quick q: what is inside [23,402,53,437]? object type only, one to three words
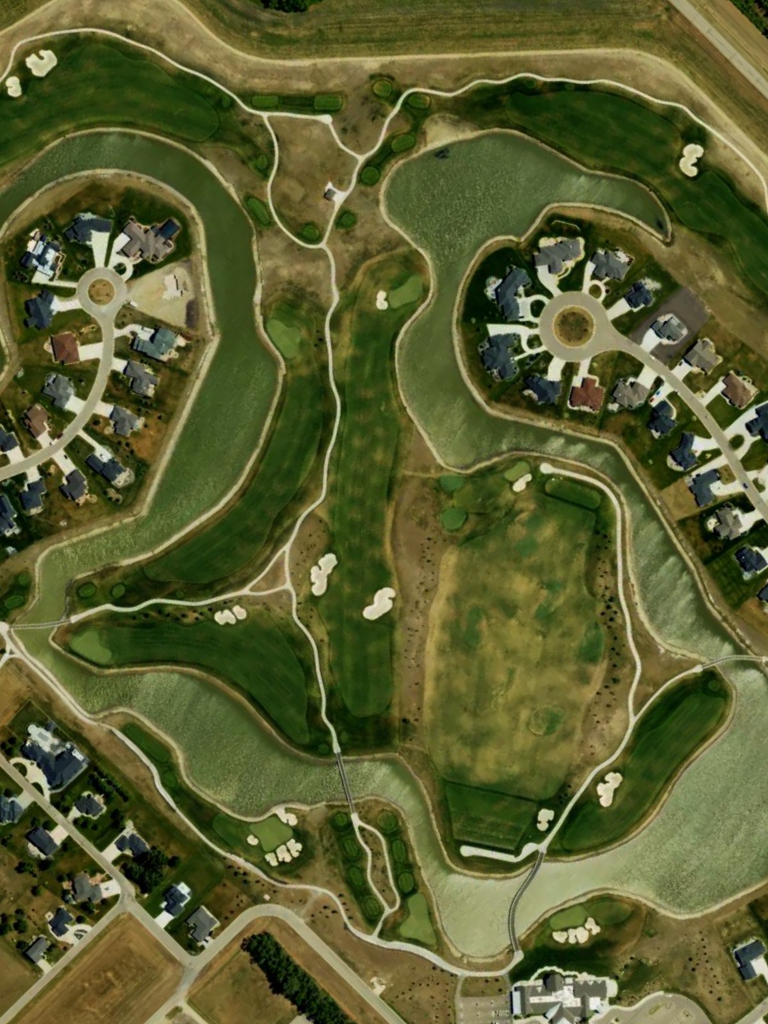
house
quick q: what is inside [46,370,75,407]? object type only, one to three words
house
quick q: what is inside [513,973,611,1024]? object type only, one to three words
building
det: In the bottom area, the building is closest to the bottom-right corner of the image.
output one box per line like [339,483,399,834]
[734,938,767,981]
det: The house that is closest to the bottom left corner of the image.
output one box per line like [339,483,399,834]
[25,937,51,964]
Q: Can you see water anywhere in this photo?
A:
Yes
